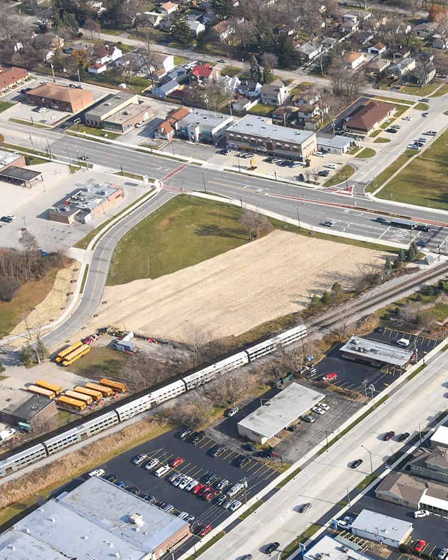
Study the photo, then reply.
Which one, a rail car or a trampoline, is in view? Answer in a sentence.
It is a rail car that can be seen here.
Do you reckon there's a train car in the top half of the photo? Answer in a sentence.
No, no train car appears in the top half of the photo.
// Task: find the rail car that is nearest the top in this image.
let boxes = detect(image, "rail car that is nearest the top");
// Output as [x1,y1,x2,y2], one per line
[243,324,309,365]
